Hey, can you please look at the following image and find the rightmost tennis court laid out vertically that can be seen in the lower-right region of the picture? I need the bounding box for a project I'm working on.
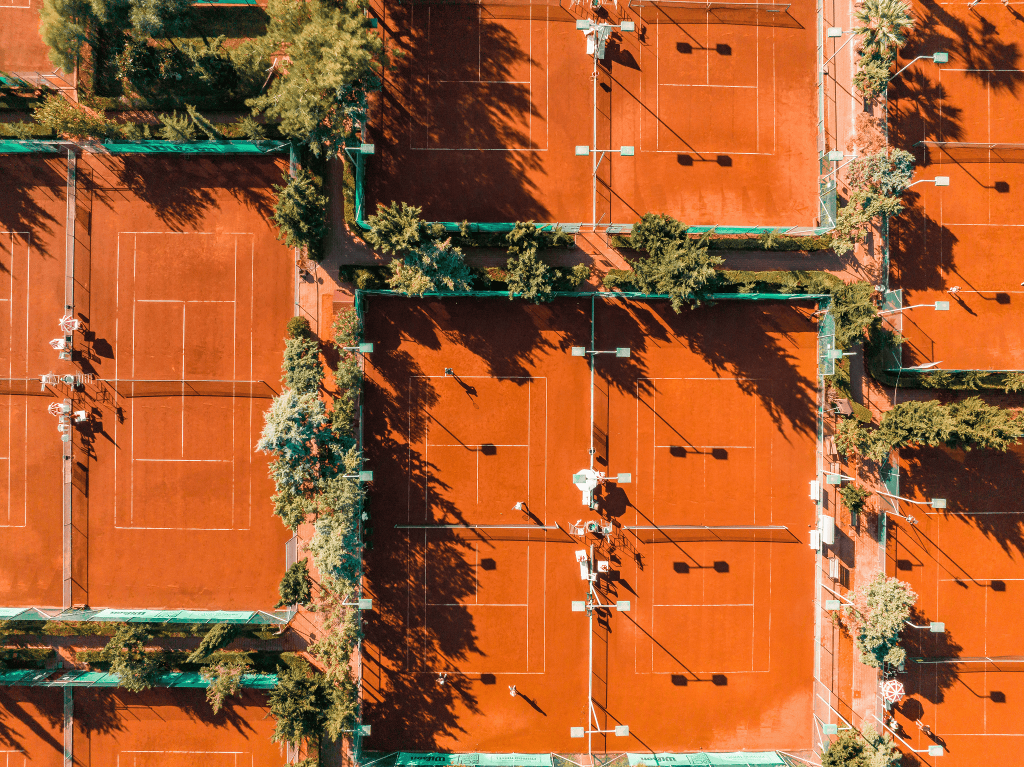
[877,436,1024,767]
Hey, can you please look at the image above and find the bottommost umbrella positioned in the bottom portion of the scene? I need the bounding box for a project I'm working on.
[876,676,902,700]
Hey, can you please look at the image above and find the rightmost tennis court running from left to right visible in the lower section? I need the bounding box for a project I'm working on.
[72,672,297,767]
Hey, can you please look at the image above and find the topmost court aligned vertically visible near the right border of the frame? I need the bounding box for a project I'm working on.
[881,0,1024,371]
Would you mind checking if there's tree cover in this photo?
Yes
